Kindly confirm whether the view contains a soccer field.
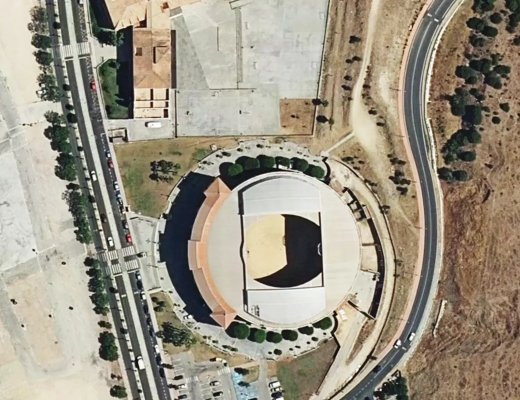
No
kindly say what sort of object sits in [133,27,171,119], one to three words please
house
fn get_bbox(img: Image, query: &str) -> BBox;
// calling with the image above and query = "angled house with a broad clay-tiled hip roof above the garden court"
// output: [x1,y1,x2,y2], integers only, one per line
[105,0,147,29]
